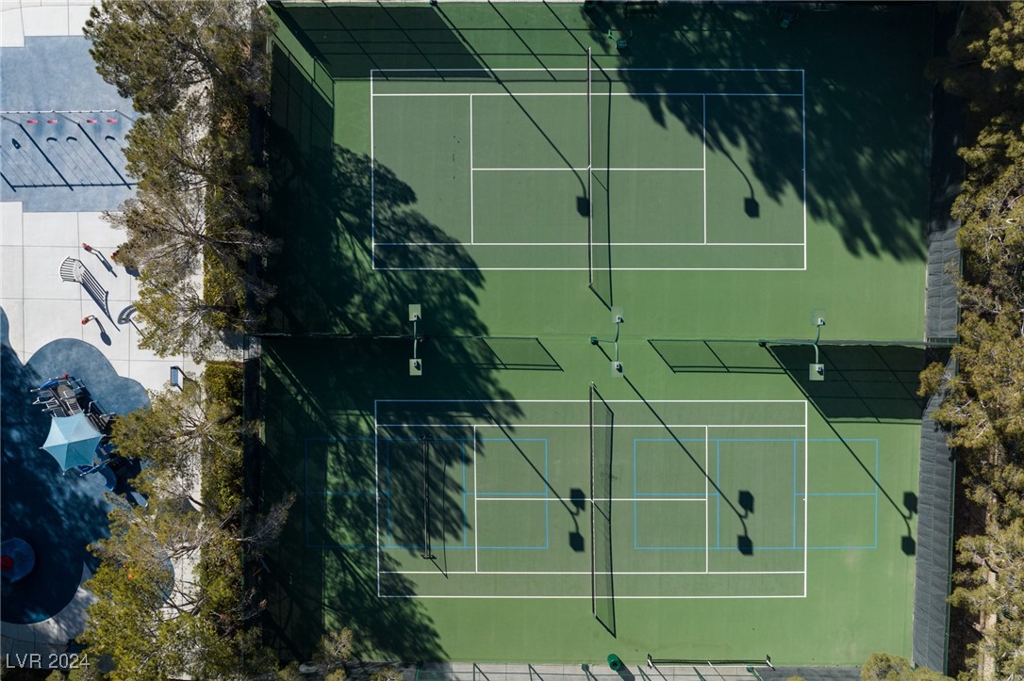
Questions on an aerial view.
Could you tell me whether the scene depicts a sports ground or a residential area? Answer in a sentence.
The picture captures a sports ground.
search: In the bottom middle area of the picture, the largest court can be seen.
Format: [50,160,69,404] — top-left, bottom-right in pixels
[260,341,924,666]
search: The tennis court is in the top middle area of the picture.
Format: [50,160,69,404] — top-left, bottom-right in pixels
[261,1,931,341]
